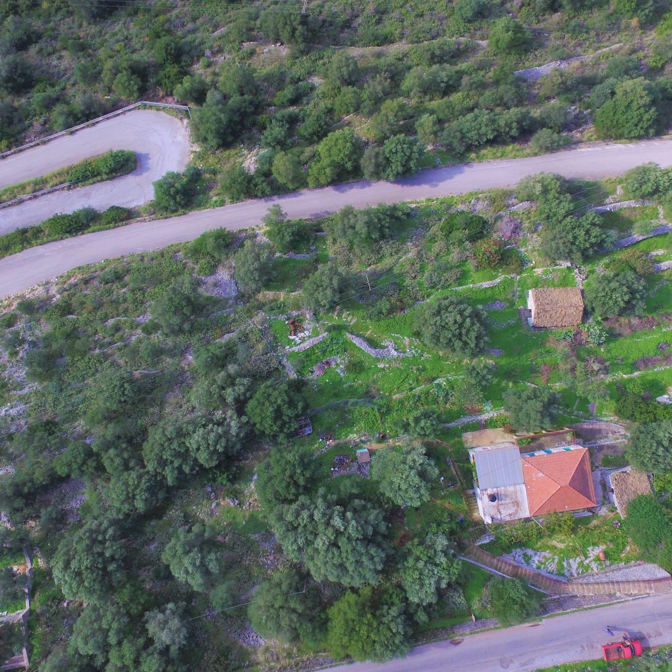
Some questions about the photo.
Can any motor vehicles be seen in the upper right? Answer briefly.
No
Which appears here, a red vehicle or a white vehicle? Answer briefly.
red vehicle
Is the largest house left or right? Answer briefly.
right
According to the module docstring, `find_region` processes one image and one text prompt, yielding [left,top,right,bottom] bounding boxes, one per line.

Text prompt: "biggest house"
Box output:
[465,440,598,525]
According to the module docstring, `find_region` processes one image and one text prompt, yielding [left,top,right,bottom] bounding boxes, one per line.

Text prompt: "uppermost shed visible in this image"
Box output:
[527,287,585,326]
